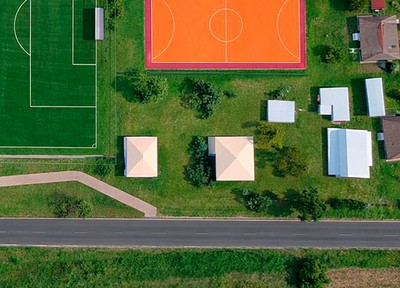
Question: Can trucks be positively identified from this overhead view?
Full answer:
No, I can see no truck in this picture.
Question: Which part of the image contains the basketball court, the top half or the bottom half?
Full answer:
It is in the top half that the basketball court appears.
